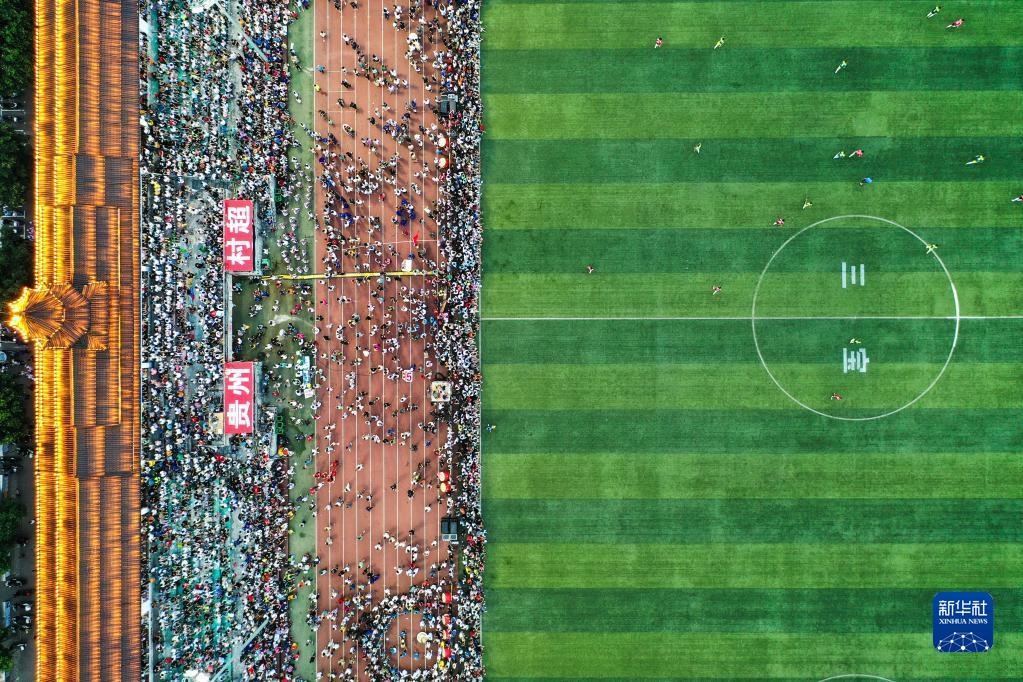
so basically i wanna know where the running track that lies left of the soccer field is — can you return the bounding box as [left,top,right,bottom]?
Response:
[314,0,456,682]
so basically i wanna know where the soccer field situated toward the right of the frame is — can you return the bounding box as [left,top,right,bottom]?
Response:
[481,0,1023,682]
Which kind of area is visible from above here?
sports ground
